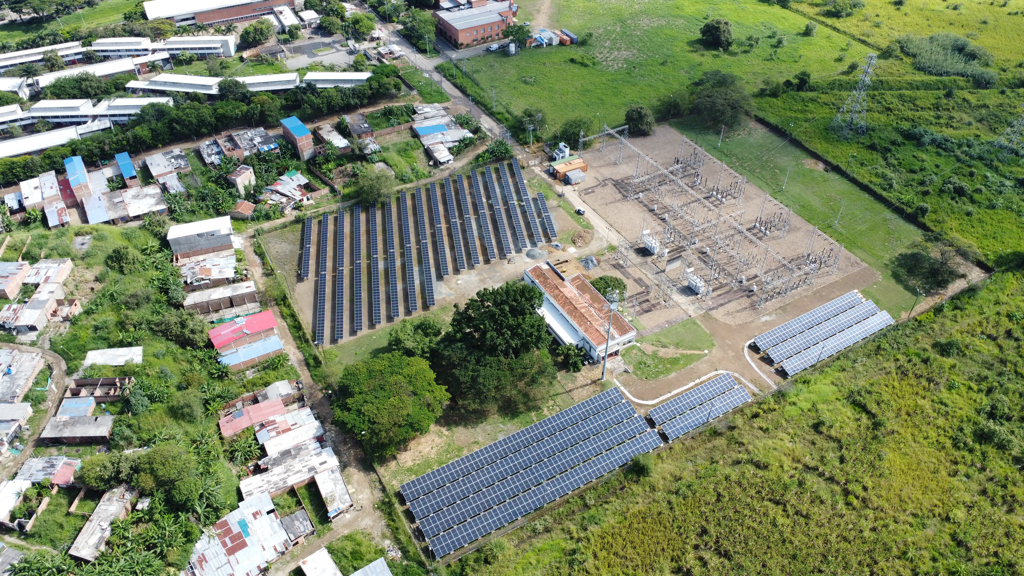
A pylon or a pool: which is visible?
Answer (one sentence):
The one in the frame is a pylon.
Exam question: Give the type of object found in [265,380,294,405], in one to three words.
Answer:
shed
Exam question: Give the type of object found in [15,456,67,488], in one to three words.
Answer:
shed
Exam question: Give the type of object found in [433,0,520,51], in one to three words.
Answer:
building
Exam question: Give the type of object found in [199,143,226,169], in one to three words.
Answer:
house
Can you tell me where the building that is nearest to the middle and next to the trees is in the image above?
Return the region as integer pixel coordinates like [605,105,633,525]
[524,260,637,367]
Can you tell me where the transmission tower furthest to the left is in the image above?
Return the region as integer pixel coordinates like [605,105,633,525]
[829,53,883,138]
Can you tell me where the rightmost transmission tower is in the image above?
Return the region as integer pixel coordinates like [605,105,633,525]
[978,81,1024,156]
